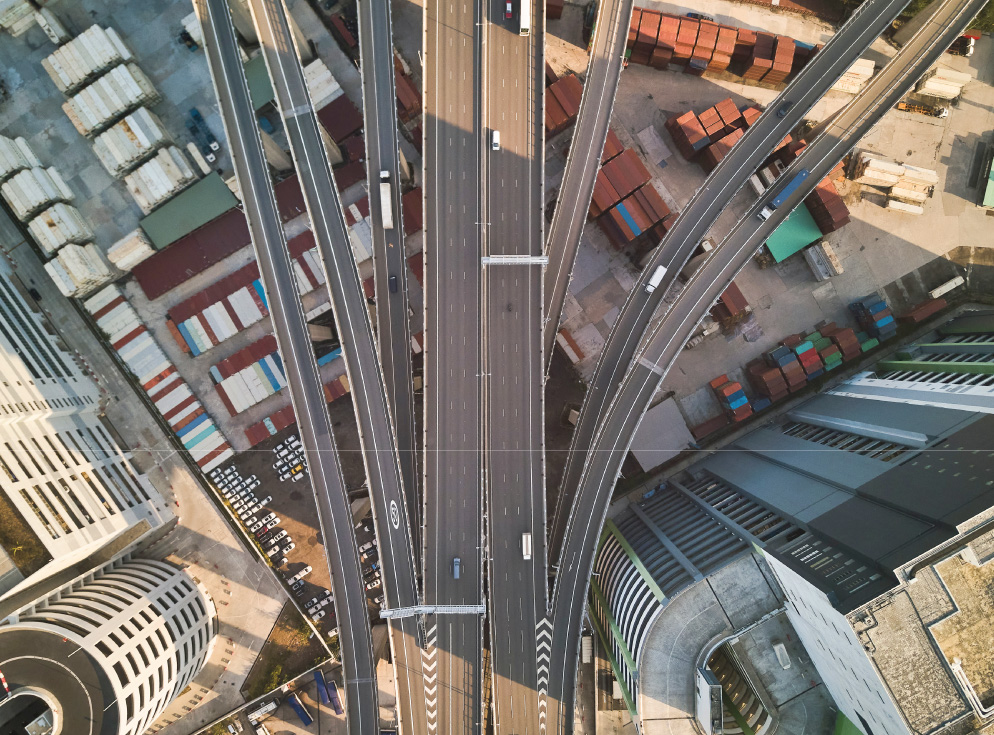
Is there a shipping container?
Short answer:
Yes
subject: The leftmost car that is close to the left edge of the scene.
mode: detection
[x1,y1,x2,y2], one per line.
[26,285,41,302]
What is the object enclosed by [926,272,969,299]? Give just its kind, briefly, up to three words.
shipping container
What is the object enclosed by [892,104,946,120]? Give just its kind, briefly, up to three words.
vehicle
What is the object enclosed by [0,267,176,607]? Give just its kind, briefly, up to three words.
warehouse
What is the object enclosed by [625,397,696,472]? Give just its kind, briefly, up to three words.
shed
